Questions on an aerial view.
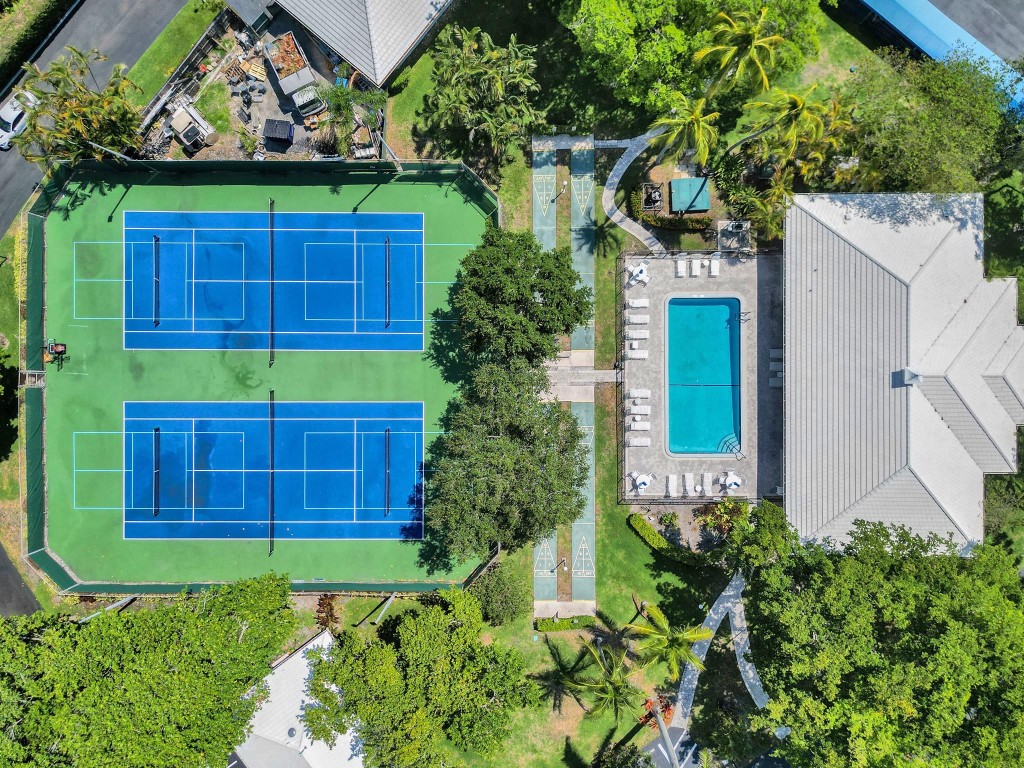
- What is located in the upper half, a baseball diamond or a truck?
truck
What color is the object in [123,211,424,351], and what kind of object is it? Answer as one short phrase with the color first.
blue tennis court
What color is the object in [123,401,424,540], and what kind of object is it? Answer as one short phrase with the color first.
blue tennis court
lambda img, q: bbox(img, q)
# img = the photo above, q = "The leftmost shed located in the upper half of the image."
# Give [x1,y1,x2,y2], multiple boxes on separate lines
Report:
[262,117,298,149]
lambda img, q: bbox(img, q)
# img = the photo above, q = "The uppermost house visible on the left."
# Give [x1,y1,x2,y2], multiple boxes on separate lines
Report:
[276,0,461,90]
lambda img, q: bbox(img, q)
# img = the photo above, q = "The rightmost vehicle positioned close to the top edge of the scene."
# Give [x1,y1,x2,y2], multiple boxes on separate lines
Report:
[263,32,330,121]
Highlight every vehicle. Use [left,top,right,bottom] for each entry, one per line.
[263,32,330,121]
[0,91,49,152]
[166,101,219,154]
